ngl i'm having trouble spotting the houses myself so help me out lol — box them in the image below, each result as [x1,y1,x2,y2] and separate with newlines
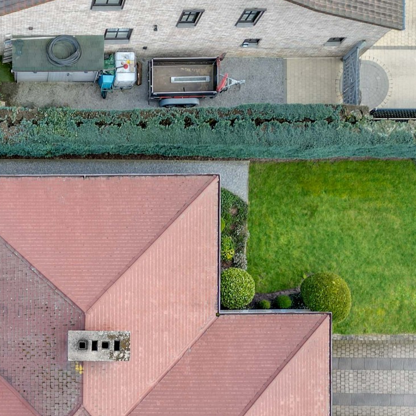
[0,175,332,416]
[0,0,406,57]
